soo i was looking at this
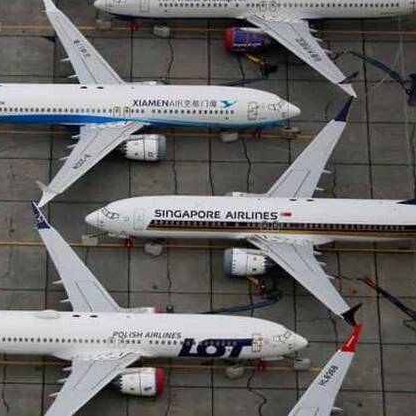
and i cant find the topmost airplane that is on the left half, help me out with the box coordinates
[0,0,301,205]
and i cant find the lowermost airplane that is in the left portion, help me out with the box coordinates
[0,202,308,416]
